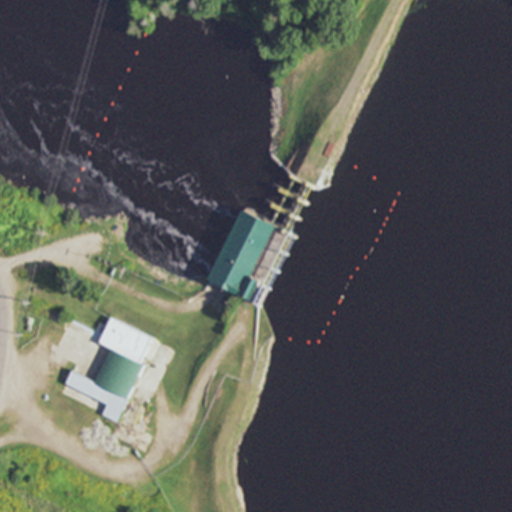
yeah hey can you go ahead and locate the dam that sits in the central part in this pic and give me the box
[250,178,312,308]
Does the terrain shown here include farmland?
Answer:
No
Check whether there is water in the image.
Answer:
Yes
